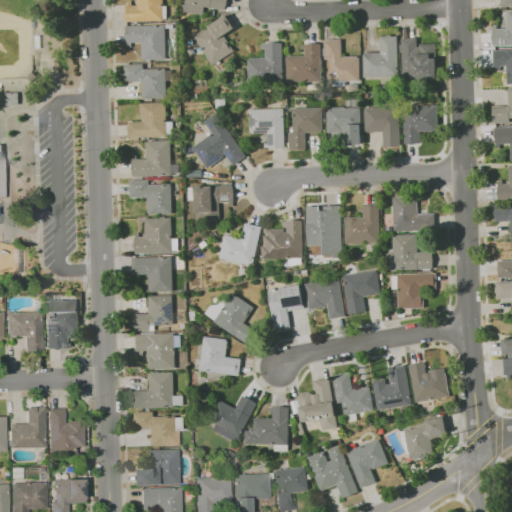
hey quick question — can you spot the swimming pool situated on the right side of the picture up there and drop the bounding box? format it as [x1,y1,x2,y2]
[387,432,406,458]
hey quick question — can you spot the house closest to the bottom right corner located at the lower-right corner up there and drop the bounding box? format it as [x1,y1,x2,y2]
[404,414,447,458]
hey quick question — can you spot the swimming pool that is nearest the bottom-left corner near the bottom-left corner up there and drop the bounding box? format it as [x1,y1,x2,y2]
[12,450,36,462]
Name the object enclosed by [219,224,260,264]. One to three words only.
house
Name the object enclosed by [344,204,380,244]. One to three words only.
house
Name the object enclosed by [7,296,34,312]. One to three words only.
swimming pool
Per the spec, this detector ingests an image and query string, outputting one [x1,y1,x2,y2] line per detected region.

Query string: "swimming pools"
[7,296,34,312]
[181,454,190,478]
[12,450,36,462]
[387,432,406,458]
